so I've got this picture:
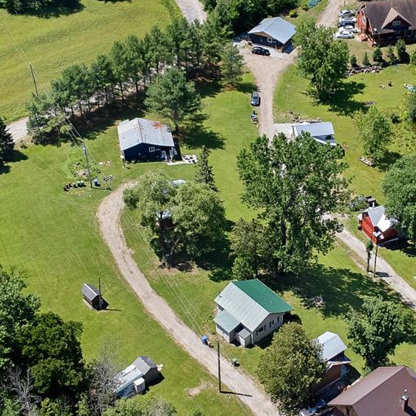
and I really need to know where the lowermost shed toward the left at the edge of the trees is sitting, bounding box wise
[131,355,170,389]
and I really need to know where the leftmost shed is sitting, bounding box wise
[79,283,103,310]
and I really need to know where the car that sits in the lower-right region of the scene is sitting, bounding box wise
[296,397,330,416]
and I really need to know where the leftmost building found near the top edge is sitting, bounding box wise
[247,17,298,51]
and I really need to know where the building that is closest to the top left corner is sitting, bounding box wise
[117,117,173,161]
